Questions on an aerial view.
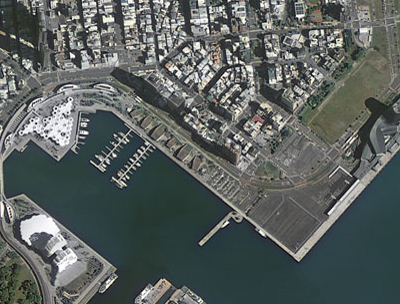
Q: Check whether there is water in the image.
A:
Yes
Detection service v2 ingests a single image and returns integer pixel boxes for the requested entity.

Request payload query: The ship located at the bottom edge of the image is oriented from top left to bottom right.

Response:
[182,285,207,304]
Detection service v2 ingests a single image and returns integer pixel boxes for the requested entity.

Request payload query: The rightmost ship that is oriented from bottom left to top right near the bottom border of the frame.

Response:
[136,283,151,303]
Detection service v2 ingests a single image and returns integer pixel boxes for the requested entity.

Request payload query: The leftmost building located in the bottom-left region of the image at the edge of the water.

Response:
[20,215,87,285]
